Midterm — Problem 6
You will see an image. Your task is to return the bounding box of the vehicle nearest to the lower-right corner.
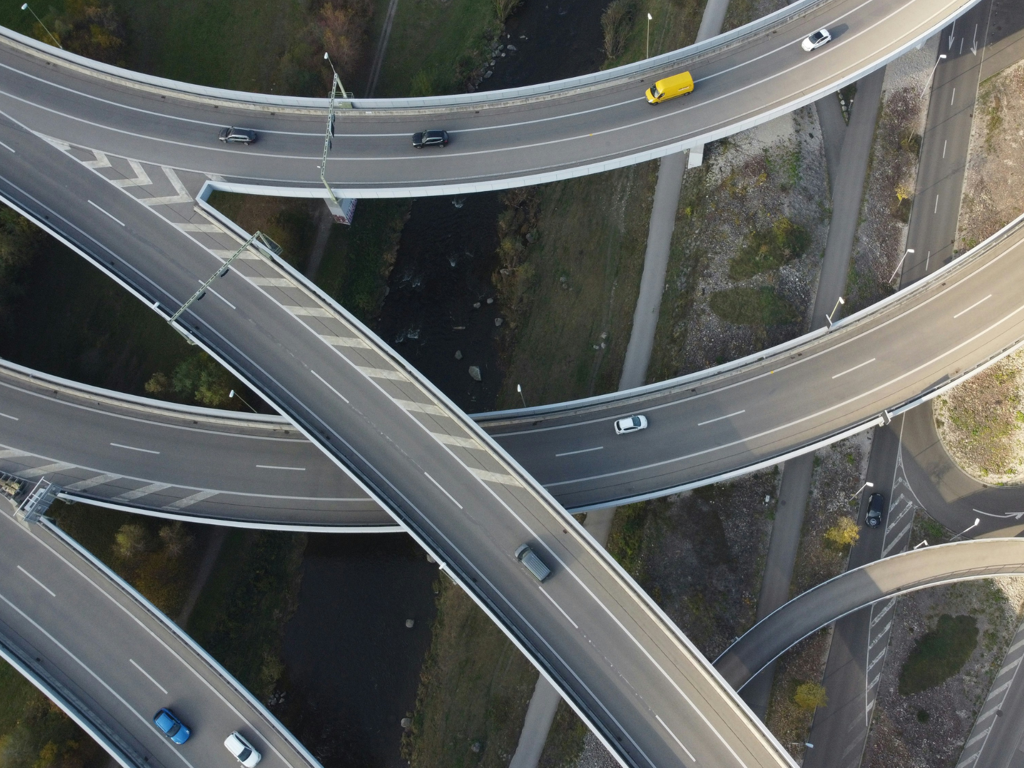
[866,493,884,528]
